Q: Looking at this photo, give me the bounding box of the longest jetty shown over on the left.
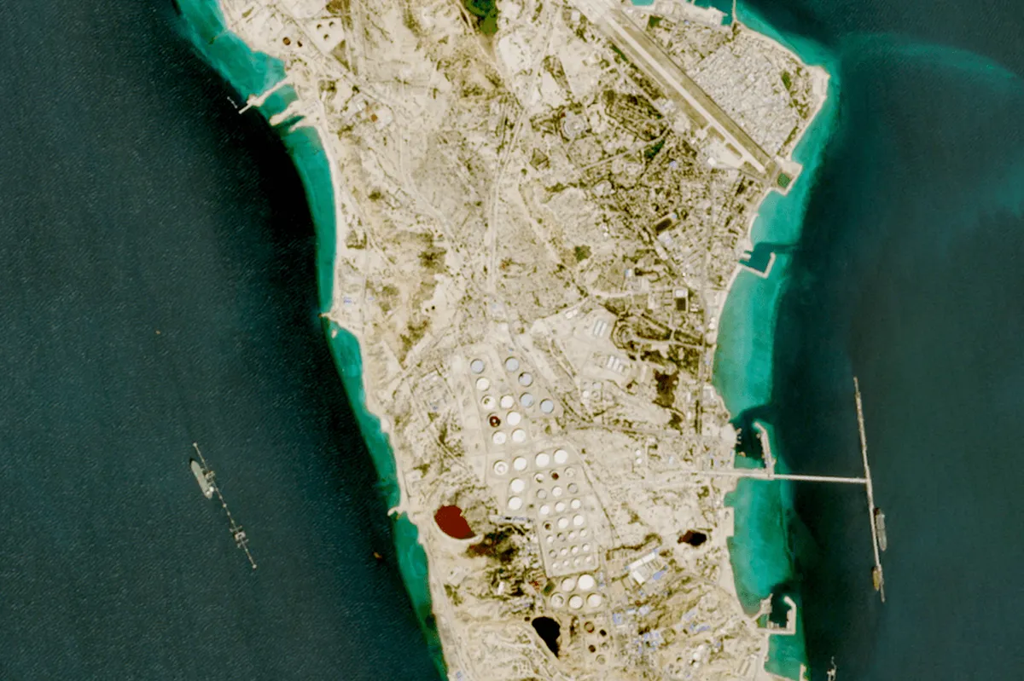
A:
[193,443,256,568]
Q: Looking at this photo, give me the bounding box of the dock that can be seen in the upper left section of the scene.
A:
[228,77,296,113]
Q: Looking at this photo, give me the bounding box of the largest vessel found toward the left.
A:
[190,459,212,499]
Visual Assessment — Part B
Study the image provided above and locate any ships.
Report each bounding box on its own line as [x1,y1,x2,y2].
[872,568,879,591]
[190,459,212,499]
[876,510,887,551]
